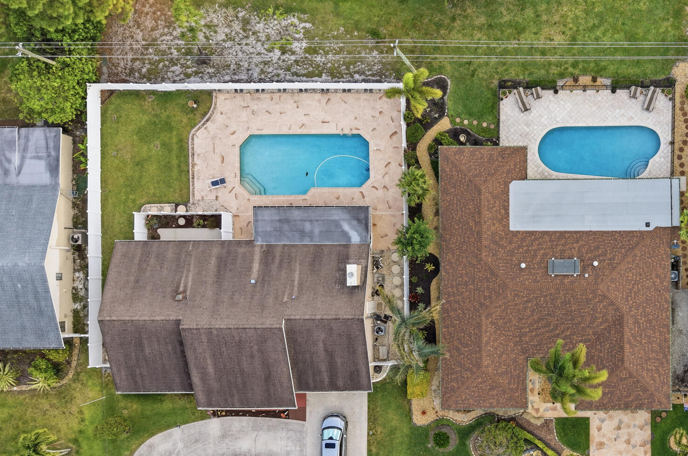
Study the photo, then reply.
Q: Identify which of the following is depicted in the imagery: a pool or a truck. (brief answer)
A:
pool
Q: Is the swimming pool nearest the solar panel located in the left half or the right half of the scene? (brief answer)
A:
right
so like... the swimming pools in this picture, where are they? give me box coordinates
[236,130,374,199]
[532,119,666,179]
